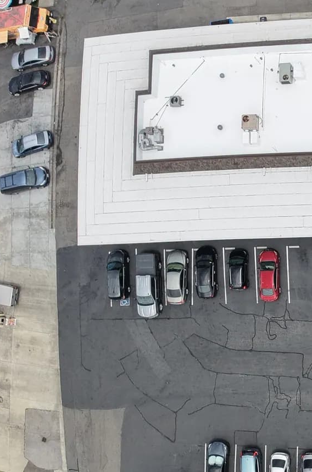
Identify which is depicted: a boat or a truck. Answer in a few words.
truck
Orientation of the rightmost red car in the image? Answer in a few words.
vertically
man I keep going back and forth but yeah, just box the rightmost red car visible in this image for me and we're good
[256,248,281,301]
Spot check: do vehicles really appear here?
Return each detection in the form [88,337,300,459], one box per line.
[226,249,250,291]
[133,250,163,318]
[8,71,56,95]
[11,46,58,72]
[163,249,190,304]
[204,439,229,472]
[0,165,53,194]
[301,451,312,472]
[256,248,281,301]
[193,246,219,298]
[103,249,133,300]
[269,451,292,472]
[0,5,57,51]
[0,283,25,308]
[240,446,262,472]
[11,131,58,158]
